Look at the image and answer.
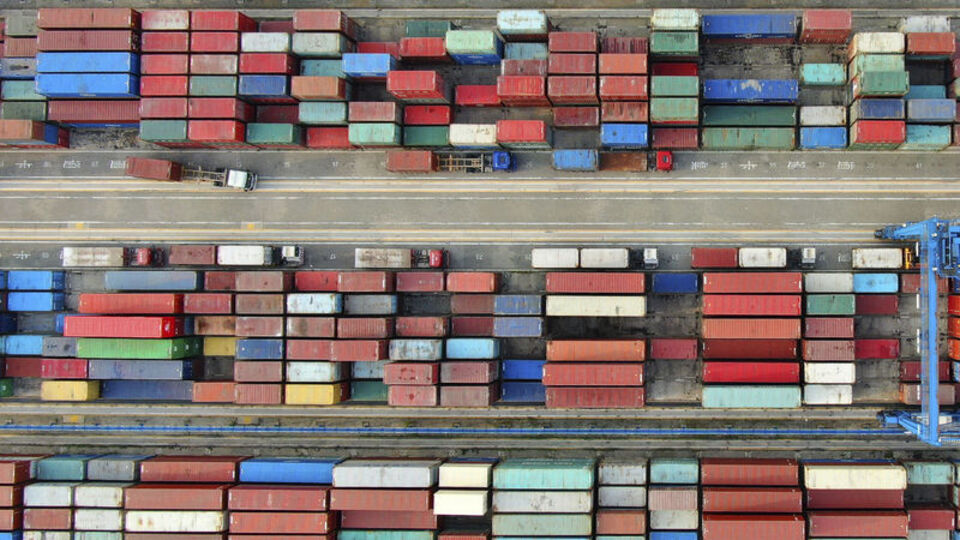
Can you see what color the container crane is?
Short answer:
blue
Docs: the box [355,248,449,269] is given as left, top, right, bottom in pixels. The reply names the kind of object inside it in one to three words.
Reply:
truck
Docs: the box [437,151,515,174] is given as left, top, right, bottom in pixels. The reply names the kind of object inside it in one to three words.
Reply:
truck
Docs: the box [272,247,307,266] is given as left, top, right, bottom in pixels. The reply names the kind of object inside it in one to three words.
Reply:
vehicle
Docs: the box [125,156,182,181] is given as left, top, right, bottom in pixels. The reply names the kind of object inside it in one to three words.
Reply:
shipping container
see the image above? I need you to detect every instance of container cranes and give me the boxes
[872,214,960,450]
